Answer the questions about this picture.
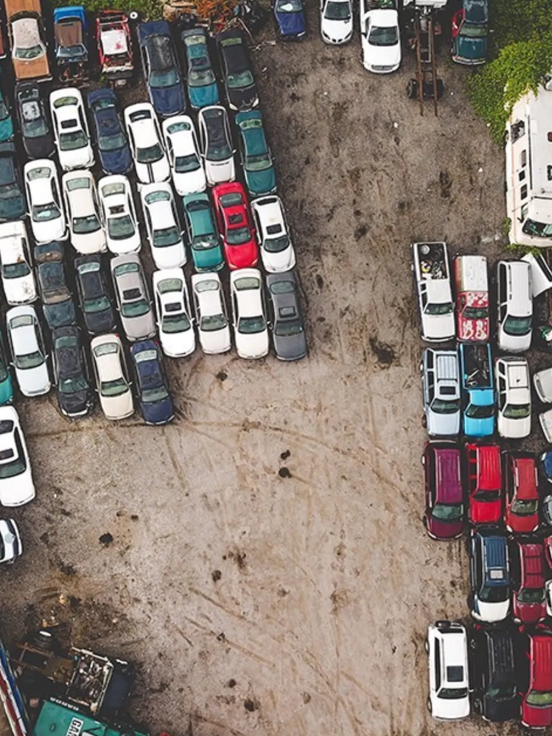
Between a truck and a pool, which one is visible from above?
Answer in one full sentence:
Visible in the photo is a truck.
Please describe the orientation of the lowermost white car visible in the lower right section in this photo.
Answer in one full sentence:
The lowermost white car visible in the lower right section is laid out up and down.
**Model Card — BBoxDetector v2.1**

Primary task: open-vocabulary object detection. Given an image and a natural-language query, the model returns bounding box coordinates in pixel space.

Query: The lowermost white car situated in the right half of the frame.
[424,617,470,722]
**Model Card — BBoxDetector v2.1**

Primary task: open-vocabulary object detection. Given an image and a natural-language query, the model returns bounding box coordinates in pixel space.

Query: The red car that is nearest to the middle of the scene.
[215,179,259,271]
